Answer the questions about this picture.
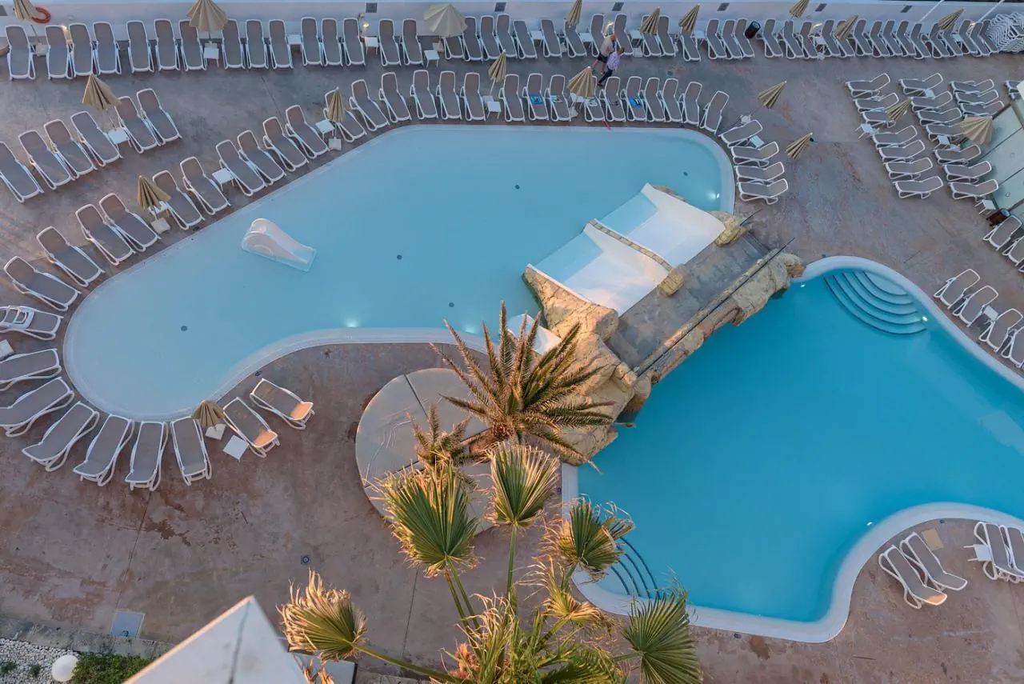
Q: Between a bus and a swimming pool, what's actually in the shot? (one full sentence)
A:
Of the two, only a swimming pool appears.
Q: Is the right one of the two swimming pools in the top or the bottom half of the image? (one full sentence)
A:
The right one of the two swimming pools is in the bottom half of the image.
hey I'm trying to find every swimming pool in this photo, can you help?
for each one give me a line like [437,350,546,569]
[577,266,1024,625]
[70,131,724,420]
